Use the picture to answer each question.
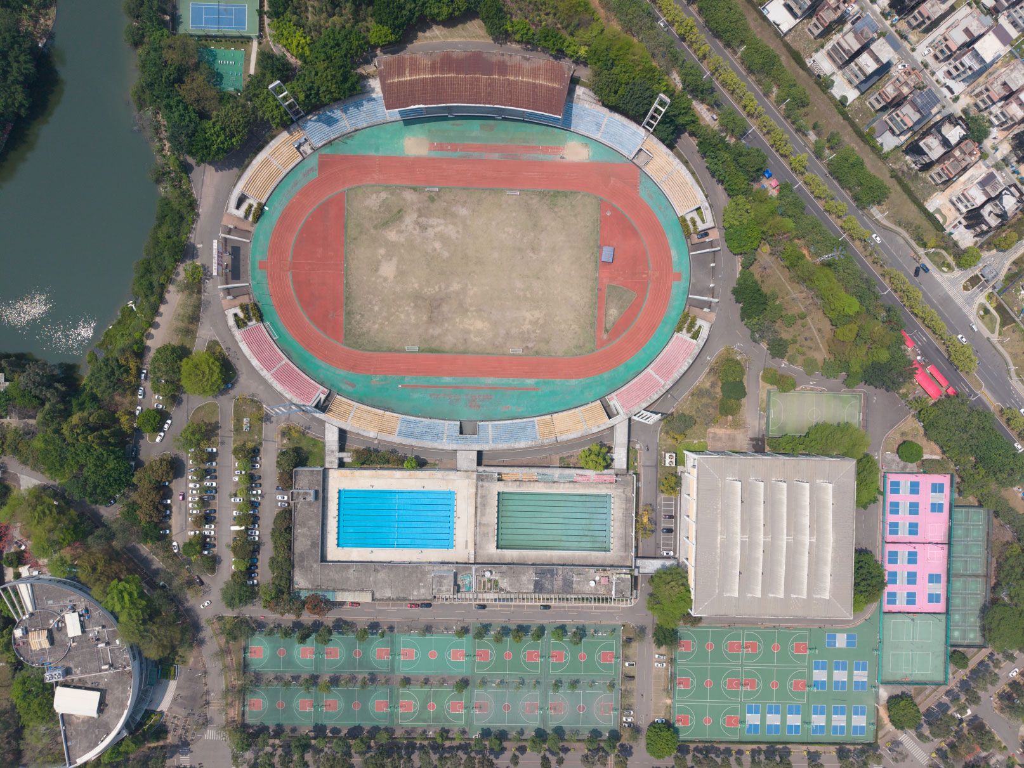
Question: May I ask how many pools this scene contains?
2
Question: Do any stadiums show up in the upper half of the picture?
Yes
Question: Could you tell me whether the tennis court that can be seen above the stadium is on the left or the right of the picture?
left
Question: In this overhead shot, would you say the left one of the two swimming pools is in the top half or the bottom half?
bottom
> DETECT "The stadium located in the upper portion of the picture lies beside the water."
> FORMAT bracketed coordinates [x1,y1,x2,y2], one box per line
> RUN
[218,50,723,451]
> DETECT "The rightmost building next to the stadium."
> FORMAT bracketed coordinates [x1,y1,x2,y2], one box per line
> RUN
[674,449,857,620]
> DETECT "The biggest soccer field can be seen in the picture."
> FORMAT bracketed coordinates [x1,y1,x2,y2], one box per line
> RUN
[342,185,600,355]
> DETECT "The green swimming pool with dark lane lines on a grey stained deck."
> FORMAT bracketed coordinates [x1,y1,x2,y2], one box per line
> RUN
[495,491,615,552]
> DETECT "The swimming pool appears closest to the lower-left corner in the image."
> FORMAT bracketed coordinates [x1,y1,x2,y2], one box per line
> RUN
[335,489,459,550]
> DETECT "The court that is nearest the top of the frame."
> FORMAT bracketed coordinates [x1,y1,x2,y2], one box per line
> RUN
[176,0,260,35]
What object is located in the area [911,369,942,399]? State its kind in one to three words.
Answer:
tent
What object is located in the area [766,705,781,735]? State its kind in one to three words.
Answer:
sports court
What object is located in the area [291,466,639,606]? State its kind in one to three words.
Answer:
building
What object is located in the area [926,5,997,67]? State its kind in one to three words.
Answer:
house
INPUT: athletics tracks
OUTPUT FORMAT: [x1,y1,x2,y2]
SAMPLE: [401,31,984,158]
[252,118,689,421]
